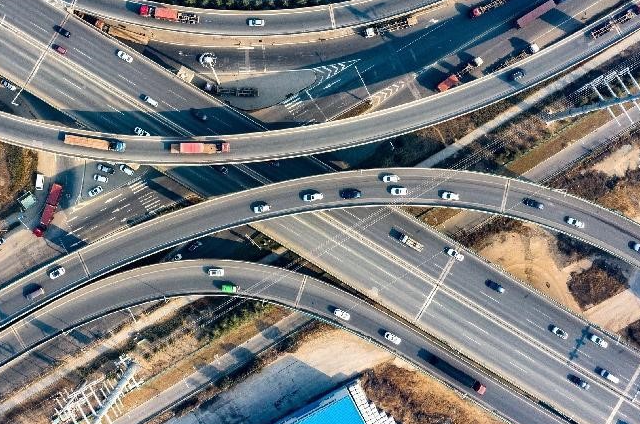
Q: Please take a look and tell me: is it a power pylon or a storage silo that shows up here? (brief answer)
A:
power pylon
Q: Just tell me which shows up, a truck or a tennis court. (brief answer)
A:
truck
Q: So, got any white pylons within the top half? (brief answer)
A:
No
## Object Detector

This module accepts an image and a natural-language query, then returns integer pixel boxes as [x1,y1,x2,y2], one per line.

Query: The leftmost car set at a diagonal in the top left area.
[2,78,17,90]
